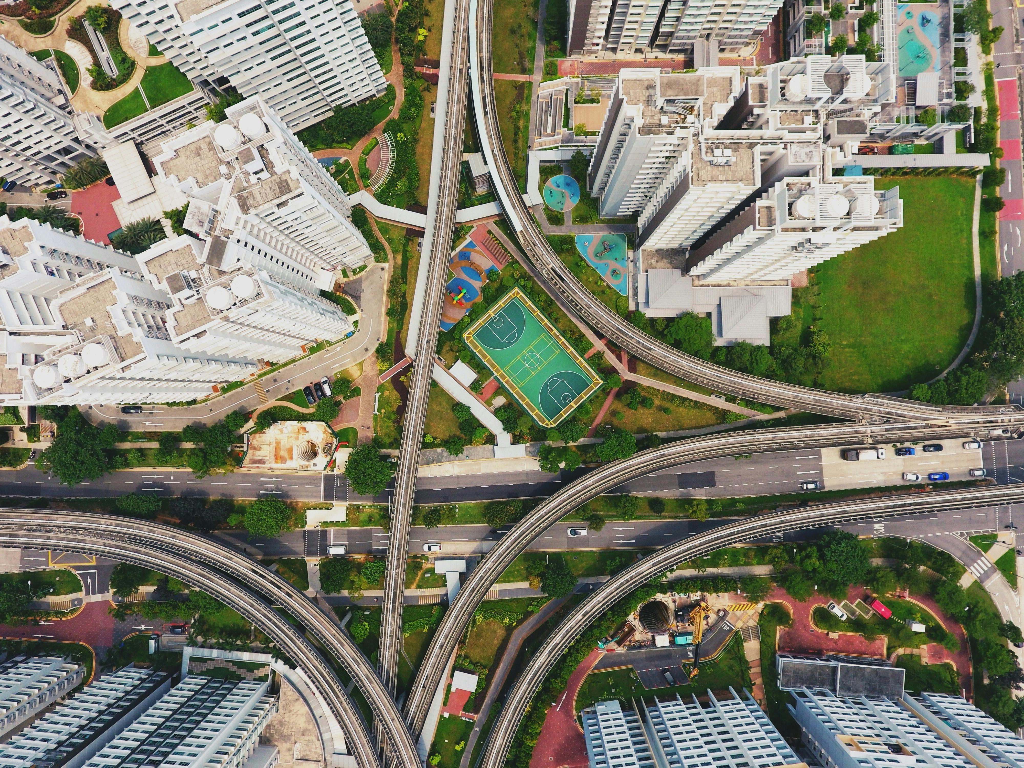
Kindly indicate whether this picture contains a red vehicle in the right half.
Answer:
Yes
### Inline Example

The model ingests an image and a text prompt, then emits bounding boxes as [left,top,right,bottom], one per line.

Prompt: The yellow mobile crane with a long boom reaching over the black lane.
[683,599,717,676]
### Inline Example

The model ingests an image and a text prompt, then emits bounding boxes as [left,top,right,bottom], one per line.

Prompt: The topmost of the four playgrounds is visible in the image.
[897,4,940,77]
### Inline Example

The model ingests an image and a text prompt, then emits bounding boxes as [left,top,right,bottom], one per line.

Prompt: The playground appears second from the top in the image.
[543,174,580,212]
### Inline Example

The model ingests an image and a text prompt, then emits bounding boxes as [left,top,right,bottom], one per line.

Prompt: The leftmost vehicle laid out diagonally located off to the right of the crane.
[829,603,846,619]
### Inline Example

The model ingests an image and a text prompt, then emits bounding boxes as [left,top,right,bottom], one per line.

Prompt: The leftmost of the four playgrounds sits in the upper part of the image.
[441,236,503,332]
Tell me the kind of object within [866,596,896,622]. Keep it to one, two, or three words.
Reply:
truck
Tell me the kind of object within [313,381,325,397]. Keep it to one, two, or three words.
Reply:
vehicle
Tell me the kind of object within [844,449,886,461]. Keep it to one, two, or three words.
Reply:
vehicle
